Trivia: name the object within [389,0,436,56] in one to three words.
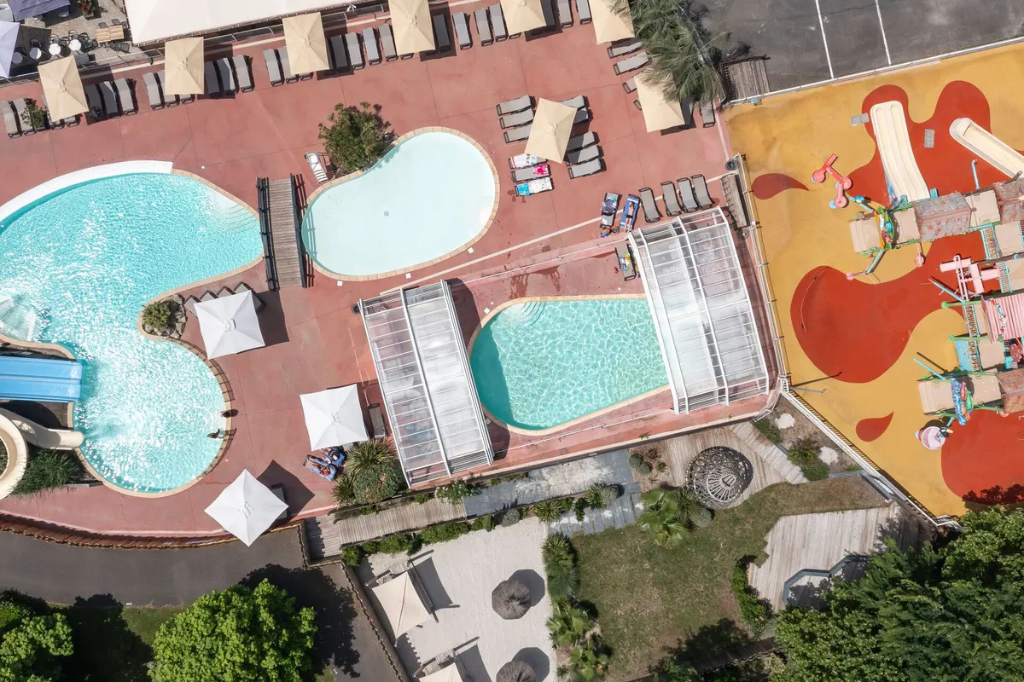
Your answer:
umbrella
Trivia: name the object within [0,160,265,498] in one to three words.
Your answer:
swimming pool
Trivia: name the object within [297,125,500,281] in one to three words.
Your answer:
swimming pool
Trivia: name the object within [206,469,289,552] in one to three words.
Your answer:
umbrella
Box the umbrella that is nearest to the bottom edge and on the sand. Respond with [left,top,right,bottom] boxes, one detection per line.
[496,656,537,682]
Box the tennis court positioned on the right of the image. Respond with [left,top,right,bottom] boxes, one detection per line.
[680,0,1024,103]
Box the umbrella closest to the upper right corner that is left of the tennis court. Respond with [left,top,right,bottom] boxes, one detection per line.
[634,68,684,133]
